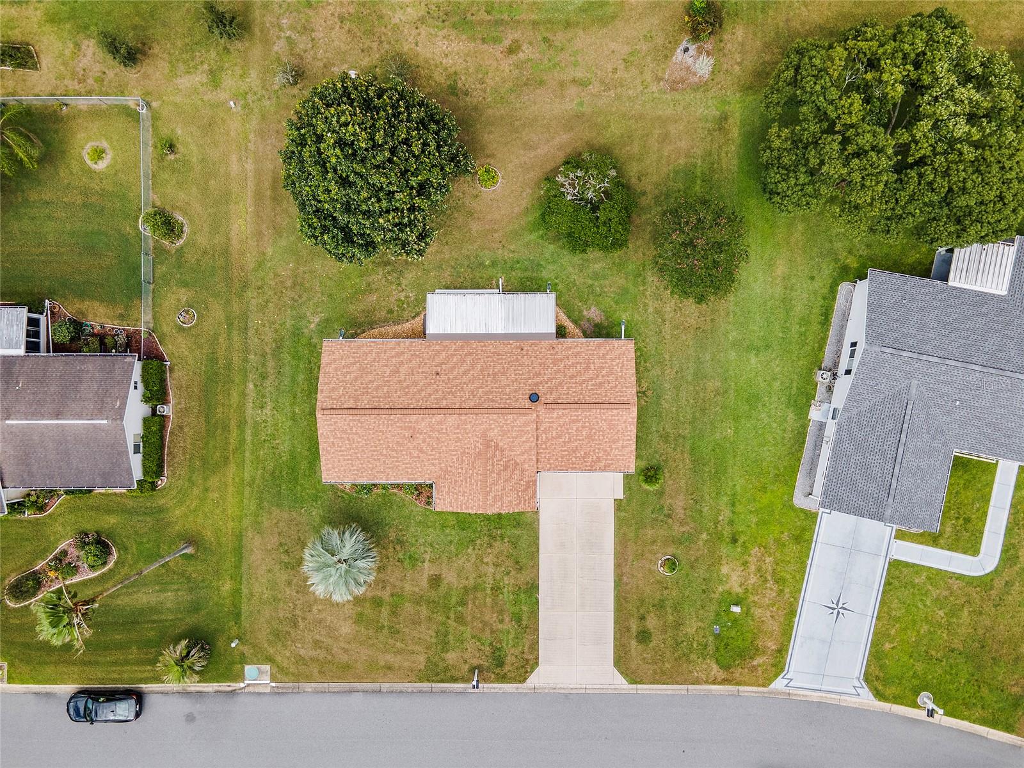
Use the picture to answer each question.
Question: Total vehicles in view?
1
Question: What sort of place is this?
residential area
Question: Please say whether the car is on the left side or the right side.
left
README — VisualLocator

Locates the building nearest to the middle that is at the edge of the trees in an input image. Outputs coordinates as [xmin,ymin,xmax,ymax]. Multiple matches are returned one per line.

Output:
[317,280,637,514]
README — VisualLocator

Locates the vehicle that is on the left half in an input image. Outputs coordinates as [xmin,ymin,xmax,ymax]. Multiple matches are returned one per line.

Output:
[68,687,141,725]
